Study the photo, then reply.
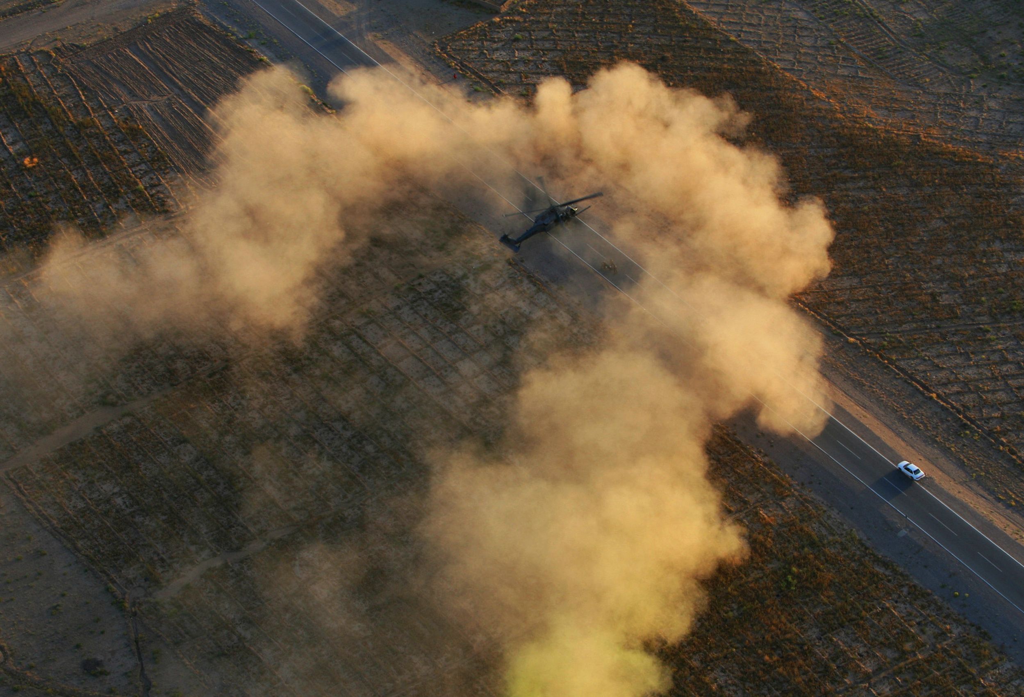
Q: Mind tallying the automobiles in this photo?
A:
one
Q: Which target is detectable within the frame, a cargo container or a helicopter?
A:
helicopter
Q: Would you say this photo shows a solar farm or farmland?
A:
farmland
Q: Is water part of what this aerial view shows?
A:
No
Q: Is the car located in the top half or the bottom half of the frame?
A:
bottom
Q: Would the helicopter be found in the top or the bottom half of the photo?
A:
top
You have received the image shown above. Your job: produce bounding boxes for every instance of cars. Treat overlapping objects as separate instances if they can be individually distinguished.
[898,459,925,480]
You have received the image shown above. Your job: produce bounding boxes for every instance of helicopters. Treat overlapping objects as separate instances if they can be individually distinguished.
[494,177,601,252]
